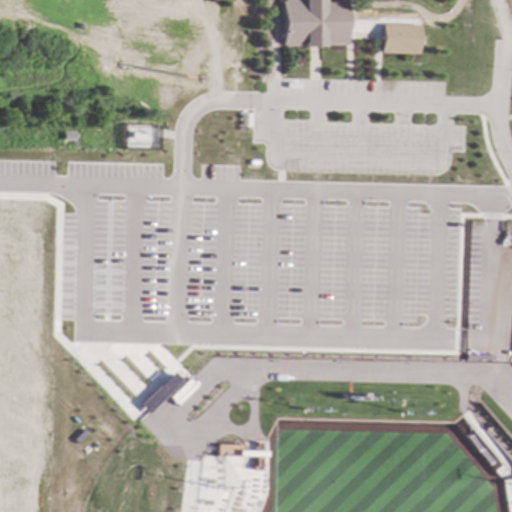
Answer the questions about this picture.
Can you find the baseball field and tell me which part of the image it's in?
bottom right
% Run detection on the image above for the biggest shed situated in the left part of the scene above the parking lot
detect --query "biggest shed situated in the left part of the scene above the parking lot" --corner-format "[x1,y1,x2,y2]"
[126,124,160,147]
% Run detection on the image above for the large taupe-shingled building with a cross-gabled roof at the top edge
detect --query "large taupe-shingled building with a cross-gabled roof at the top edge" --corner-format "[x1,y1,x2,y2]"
[284,0,354,48]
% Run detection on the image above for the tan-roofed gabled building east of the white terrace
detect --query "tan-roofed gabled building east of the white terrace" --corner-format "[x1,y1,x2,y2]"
[384,24,425,54]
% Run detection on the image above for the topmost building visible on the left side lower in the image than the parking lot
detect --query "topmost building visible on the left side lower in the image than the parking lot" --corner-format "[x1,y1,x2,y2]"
[144,371,188,412]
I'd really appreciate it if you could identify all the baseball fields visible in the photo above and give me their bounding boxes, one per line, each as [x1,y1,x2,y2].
[263,420,500,512]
